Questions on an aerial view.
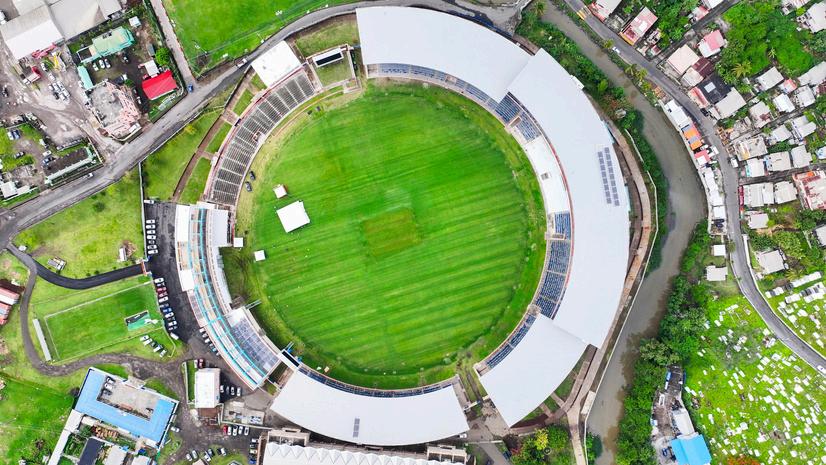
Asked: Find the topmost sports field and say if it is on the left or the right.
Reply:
left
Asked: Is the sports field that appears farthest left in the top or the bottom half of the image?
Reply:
bottom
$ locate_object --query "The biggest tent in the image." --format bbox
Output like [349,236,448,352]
[277,199,310,232]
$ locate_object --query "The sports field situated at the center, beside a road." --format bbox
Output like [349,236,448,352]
[219,80,547,391]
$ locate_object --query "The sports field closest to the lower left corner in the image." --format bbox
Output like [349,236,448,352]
[46,281,164,360]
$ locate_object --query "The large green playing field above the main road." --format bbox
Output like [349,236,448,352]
[164,0,343,69]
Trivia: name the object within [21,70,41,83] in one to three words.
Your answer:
vehicle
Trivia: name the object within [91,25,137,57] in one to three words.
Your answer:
house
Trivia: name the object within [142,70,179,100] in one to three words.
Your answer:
house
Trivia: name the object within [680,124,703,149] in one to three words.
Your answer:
building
